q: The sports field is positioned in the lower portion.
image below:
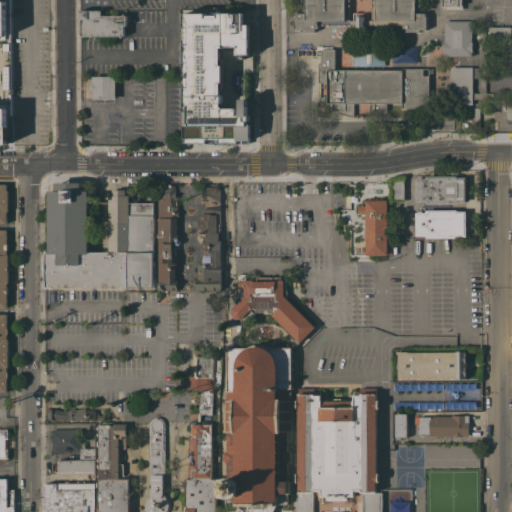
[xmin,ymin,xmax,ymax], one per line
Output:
[428,470,482,512]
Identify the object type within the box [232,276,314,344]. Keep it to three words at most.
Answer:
building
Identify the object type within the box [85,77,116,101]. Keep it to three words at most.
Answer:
house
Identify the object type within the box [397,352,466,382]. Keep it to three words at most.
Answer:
building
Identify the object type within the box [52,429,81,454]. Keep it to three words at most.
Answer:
house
